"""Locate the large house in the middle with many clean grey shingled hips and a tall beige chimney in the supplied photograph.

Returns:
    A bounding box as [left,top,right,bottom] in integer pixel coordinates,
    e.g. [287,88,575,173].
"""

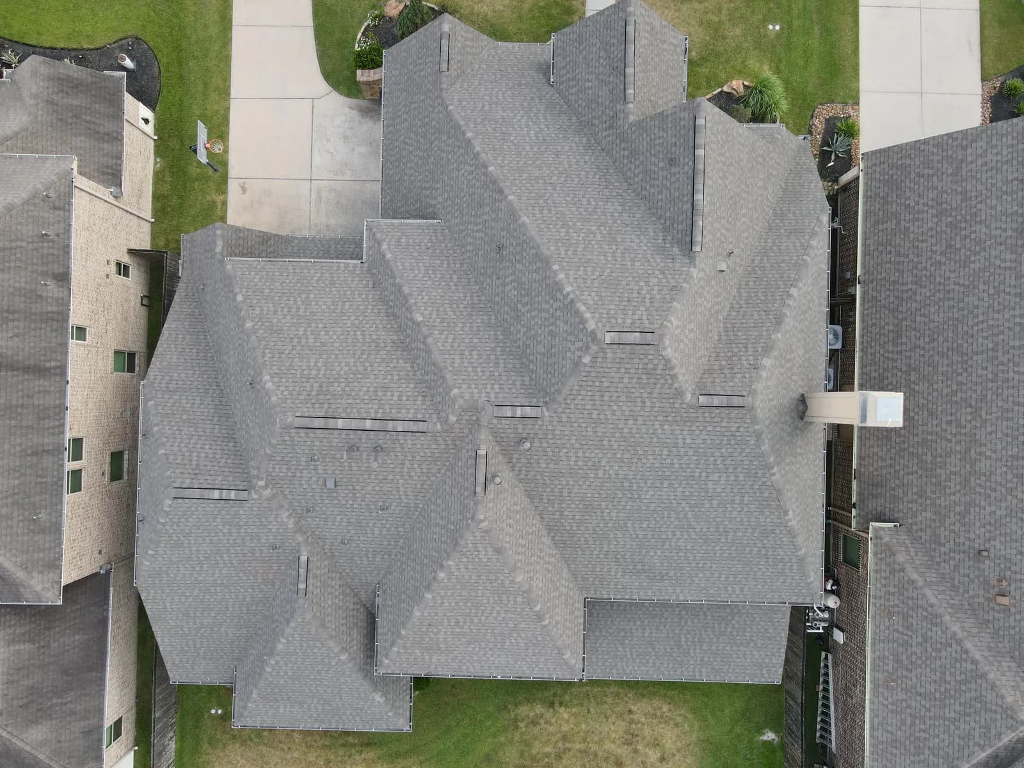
[134,0,902,731]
